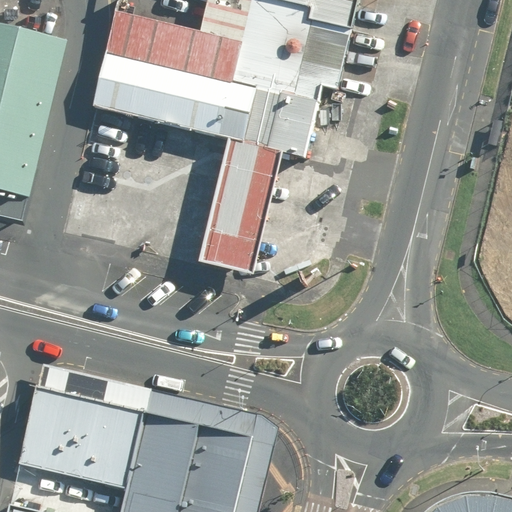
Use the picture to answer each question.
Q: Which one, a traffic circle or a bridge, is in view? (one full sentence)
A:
The image shows a traffic circle.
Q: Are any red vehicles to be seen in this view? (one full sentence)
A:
Yes, the frame does contain a red vehicle.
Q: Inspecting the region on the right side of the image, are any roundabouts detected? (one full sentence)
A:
Yes, I can see a roundabout on the right side of the image.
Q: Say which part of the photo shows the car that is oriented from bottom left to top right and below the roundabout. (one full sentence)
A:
The car that is oriented from bottom left to top right and below the roundabout is in the bottom right part of the image.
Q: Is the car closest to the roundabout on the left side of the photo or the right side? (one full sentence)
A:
The car closest to the roundabout is on the right side of the image.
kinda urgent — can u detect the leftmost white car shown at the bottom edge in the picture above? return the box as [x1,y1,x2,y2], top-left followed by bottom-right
[36,478,65,494]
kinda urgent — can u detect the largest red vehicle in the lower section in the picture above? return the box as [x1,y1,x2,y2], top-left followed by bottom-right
[32,340,63,358]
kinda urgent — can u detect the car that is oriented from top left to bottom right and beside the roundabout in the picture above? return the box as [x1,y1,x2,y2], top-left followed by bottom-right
[390,346,417,370]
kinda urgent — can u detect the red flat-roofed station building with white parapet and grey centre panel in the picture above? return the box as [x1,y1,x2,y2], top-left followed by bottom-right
[198,138,283,276]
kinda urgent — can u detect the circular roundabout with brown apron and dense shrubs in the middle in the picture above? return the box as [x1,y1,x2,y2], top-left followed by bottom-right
[336,356,410,430]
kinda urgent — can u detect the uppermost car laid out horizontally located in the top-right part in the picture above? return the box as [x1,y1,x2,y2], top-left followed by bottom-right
[356,10,388,25]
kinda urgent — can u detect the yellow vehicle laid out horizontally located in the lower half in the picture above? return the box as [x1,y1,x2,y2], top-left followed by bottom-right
[268,331,290,344]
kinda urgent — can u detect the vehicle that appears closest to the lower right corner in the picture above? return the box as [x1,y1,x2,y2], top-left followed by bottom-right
[377,455,403,486]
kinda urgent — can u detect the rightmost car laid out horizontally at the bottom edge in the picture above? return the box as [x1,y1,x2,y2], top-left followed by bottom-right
[91,492,120,508]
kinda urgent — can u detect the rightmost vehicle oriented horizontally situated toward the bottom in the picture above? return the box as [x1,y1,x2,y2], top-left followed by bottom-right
[315,336,344,351]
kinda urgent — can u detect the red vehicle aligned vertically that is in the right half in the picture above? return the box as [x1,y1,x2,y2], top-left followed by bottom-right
[404,19,422,52]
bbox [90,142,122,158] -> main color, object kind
white car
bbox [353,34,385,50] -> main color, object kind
white car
